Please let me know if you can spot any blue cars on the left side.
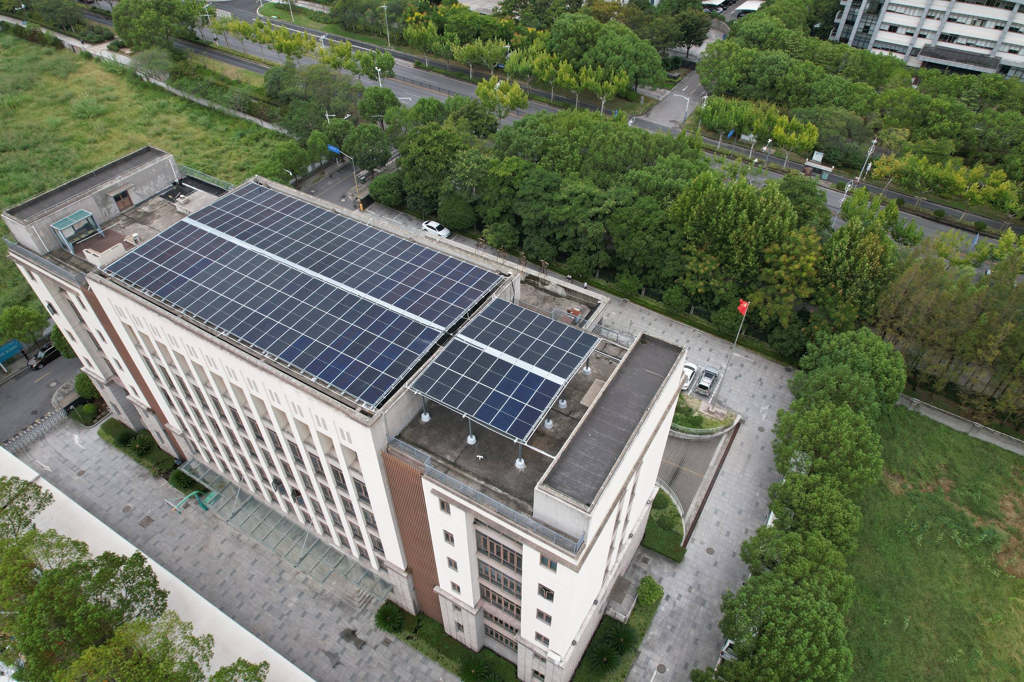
No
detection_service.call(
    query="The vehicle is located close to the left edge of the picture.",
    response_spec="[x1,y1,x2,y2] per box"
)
[18,333,64,366]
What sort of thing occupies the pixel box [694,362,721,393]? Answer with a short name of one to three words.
car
